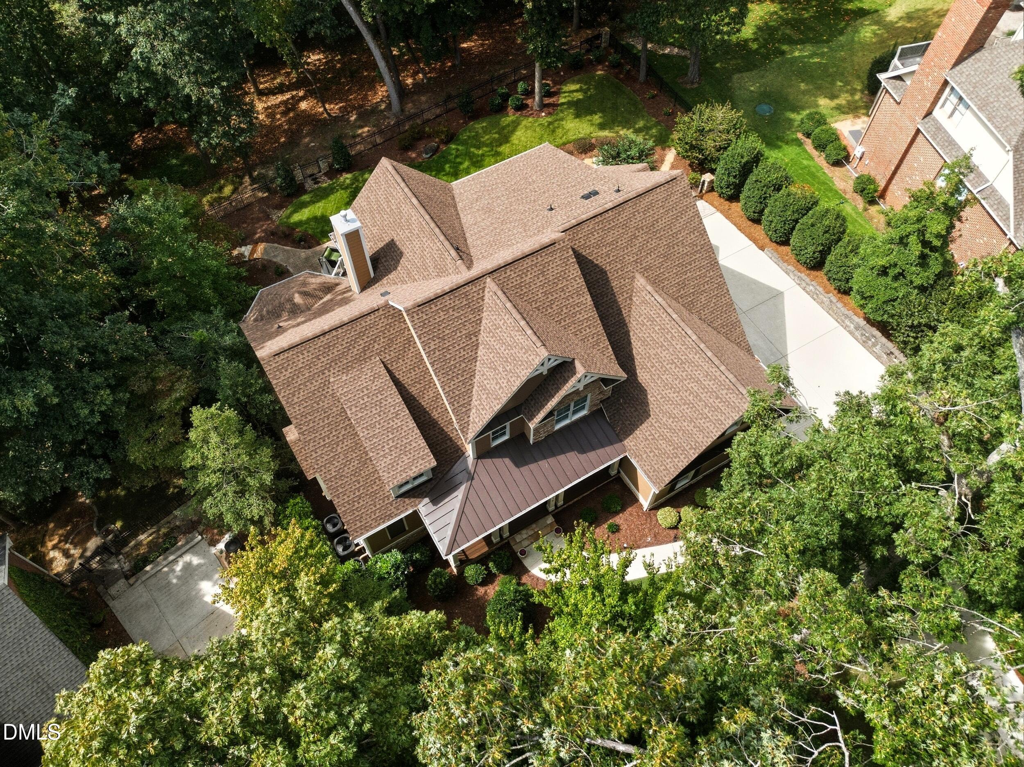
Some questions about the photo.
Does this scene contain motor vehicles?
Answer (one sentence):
No, no motor vehicle is visible in the view.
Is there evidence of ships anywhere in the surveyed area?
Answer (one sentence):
No, the scene contains no ship.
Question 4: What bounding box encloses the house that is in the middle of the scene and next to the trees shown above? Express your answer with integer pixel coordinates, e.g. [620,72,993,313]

[242,140,805,574]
